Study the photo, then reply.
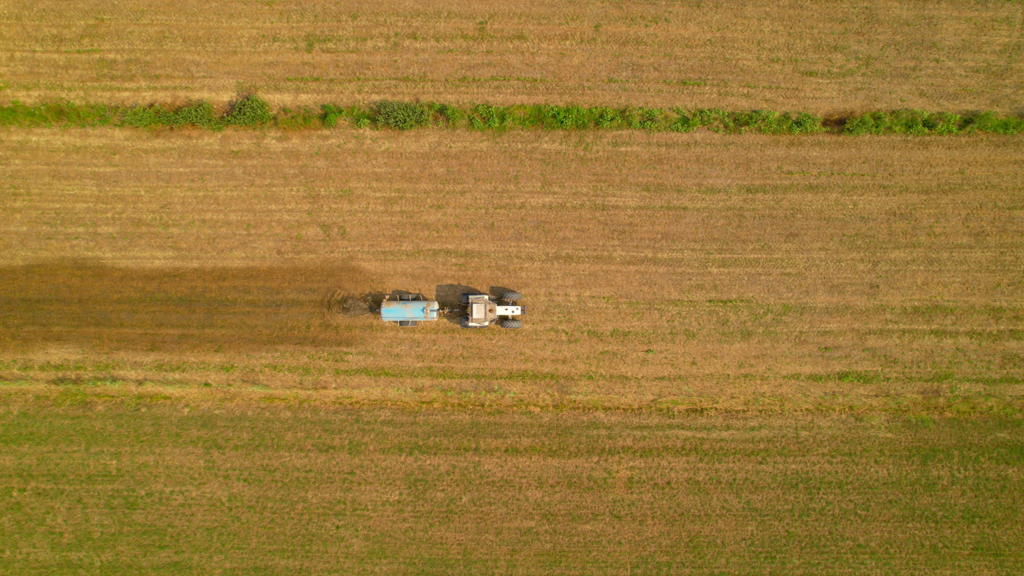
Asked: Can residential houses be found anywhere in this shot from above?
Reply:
No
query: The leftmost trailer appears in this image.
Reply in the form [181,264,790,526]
[373,294,465,327]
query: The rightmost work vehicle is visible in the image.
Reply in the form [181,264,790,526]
[456,292,528,329]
